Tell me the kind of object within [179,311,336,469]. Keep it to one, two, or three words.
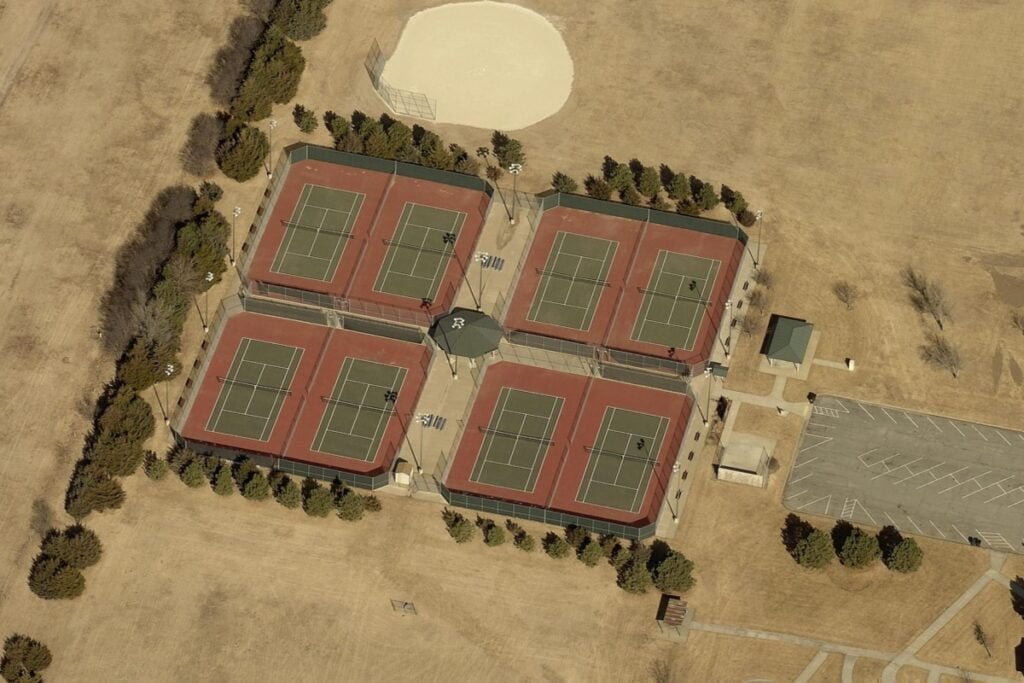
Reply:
tennis court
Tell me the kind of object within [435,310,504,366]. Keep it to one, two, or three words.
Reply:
gazebo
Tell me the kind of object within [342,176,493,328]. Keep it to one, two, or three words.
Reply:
tennis court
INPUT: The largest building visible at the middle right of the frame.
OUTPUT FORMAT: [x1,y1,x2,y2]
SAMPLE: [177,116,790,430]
[767,317,814,371]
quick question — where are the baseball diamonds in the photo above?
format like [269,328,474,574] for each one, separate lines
[377,0,573,131]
